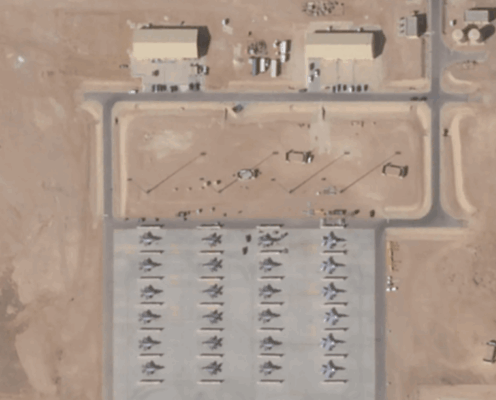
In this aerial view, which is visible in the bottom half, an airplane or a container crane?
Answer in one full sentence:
There is an airplane in the bottom half.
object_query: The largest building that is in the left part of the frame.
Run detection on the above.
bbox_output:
[131,28,200,61]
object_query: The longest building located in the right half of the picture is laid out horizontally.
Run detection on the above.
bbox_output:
[304,32,374,60]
